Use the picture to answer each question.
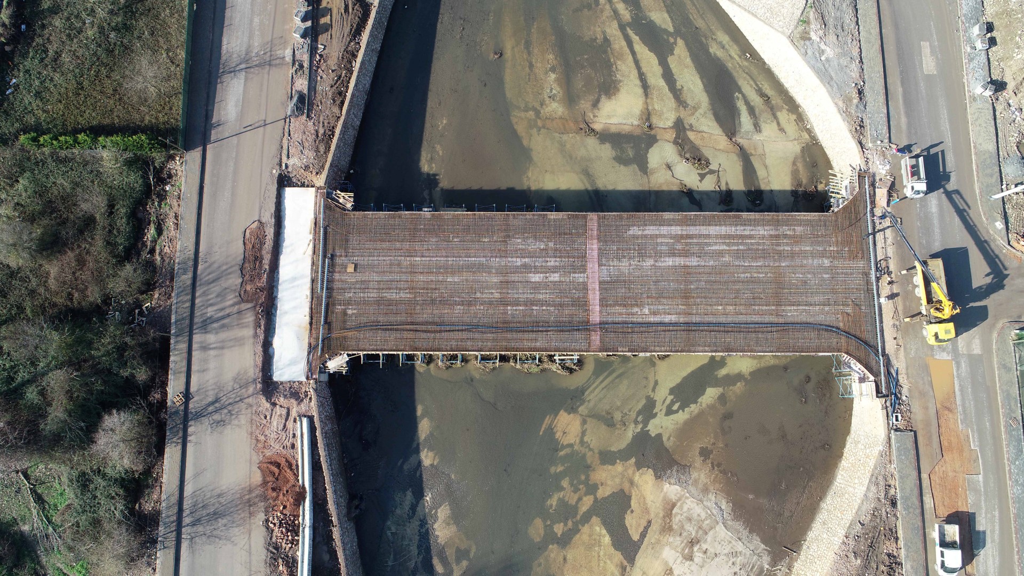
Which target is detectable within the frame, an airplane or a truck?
truck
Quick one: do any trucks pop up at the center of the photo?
No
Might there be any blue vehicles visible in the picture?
No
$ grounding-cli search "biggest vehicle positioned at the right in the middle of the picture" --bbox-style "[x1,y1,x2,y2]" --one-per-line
[870,206,963,349]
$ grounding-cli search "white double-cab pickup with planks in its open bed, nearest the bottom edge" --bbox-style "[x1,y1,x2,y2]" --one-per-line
[931,522,966,576]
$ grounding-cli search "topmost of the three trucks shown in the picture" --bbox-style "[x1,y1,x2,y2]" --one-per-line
[894,153,932,202]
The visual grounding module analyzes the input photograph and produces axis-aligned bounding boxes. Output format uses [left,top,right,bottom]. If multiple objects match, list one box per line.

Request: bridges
[308,171,891,398]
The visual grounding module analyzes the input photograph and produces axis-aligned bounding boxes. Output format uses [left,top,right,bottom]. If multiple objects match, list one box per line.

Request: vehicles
[931,522,966,576]
[870,206,963,349]
[894,153,932,202]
